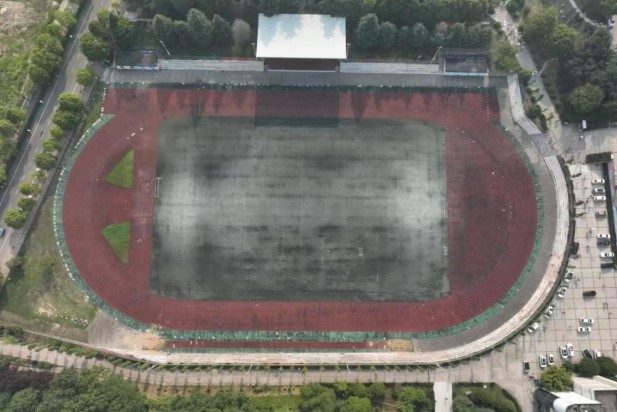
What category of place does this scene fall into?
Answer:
sports ground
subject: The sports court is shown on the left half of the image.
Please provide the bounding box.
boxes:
[111,49,160,70]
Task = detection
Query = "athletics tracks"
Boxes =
[55,83,544,340]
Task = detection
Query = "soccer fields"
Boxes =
[151,117,448,301]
